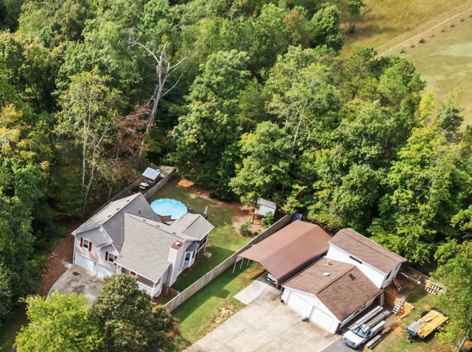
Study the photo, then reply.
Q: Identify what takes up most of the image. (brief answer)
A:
trees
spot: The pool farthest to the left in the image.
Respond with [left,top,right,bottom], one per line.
[150,195,189,225]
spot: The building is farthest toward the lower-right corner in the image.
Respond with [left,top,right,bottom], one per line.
[283,226,412,333]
